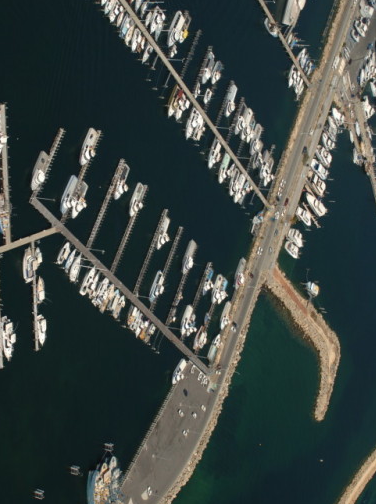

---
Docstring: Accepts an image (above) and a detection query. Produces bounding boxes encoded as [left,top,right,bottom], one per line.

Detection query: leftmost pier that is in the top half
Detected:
[0,103,14,246]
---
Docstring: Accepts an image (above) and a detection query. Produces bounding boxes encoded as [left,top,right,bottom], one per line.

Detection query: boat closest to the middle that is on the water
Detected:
[183,239,199,273]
